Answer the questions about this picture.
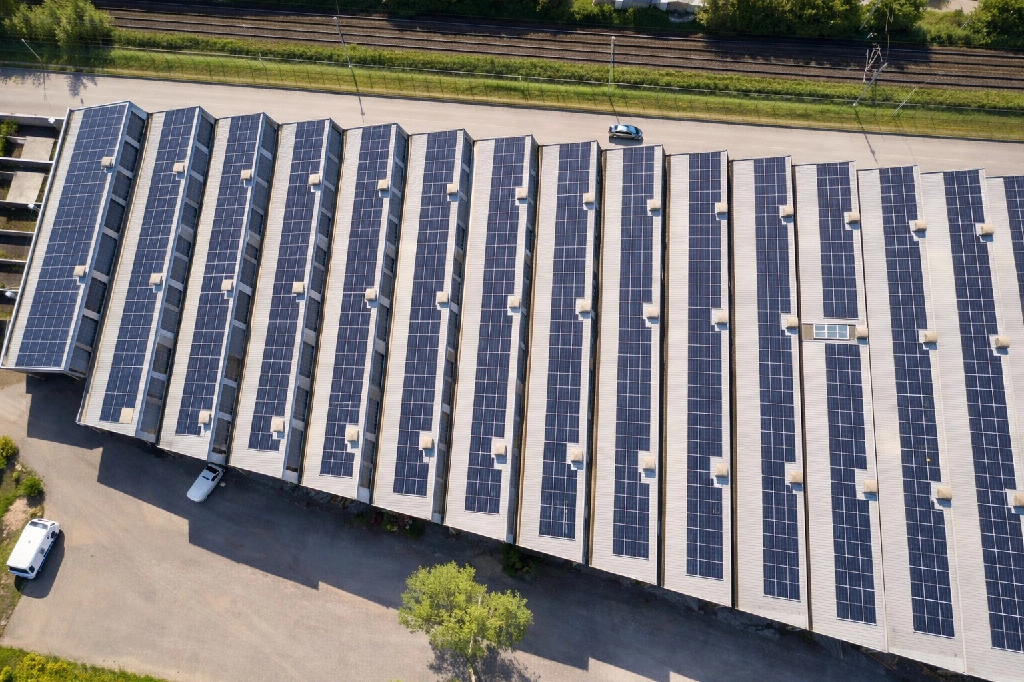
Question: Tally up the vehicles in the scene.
3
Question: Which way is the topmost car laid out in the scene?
from side to side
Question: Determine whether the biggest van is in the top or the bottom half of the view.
bottom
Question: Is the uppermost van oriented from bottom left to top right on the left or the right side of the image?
left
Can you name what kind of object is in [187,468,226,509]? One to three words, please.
van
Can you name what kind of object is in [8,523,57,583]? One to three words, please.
van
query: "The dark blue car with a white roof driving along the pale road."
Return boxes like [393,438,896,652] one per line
[606,122,644,142]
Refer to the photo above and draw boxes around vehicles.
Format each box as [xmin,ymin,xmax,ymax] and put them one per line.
[187,468,226,509]
[606,122,644,142]
[8,523,57,583]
